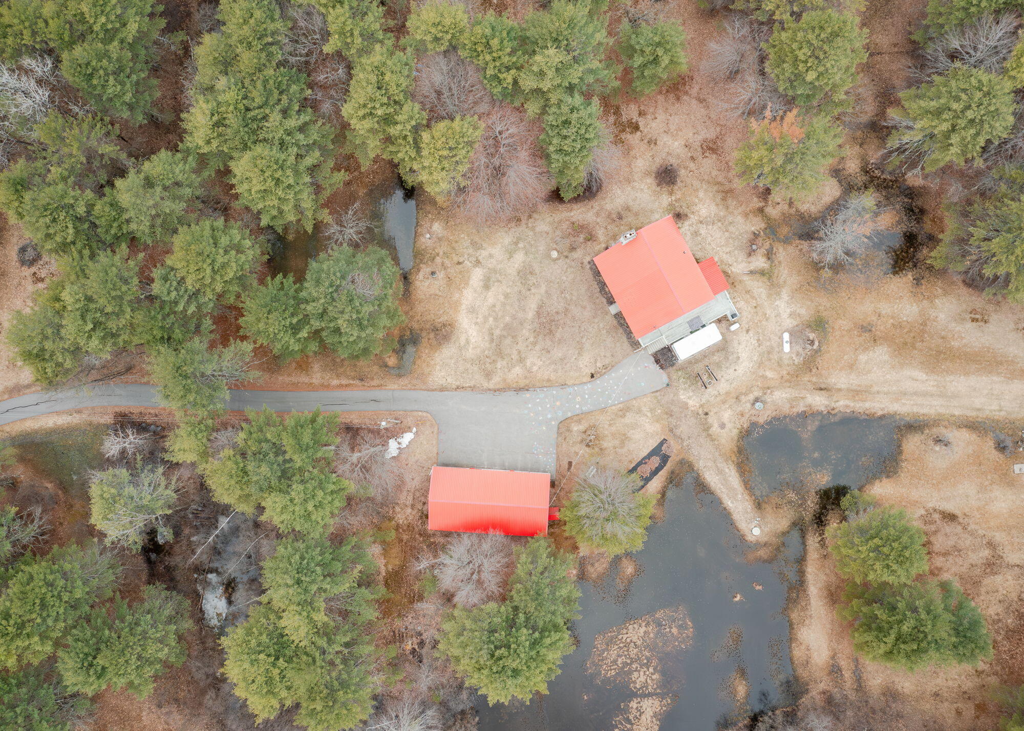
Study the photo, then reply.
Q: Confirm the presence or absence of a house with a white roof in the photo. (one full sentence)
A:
No, the picture doesn't show any house with a white roof.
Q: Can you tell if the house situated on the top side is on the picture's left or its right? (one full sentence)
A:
The house situated on the top side appears in the right half of the scene.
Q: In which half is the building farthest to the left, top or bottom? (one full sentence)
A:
You can find the building farthest to the left in the bottom half.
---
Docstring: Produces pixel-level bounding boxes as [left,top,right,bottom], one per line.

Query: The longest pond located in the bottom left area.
[200,507,276,640]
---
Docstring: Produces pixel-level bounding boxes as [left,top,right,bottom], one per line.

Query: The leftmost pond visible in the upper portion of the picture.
[269,227,331,285]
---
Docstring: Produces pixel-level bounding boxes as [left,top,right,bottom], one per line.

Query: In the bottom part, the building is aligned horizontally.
[429,466,558,536]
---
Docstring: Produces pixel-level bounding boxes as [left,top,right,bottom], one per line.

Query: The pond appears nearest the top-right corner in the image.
[774,225,903,278]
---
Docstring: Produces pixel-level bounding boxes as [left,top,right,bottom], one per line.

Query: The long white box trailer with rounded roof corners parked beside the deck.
[665,324,721,360]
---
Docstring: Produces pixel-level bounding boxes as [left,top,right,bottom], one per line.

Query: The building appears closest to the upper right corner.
[594,215,742,358]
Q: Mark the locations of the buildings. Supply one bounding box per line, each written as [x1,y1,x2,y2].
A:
[429,466,558,536]
[594,215,742,358]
